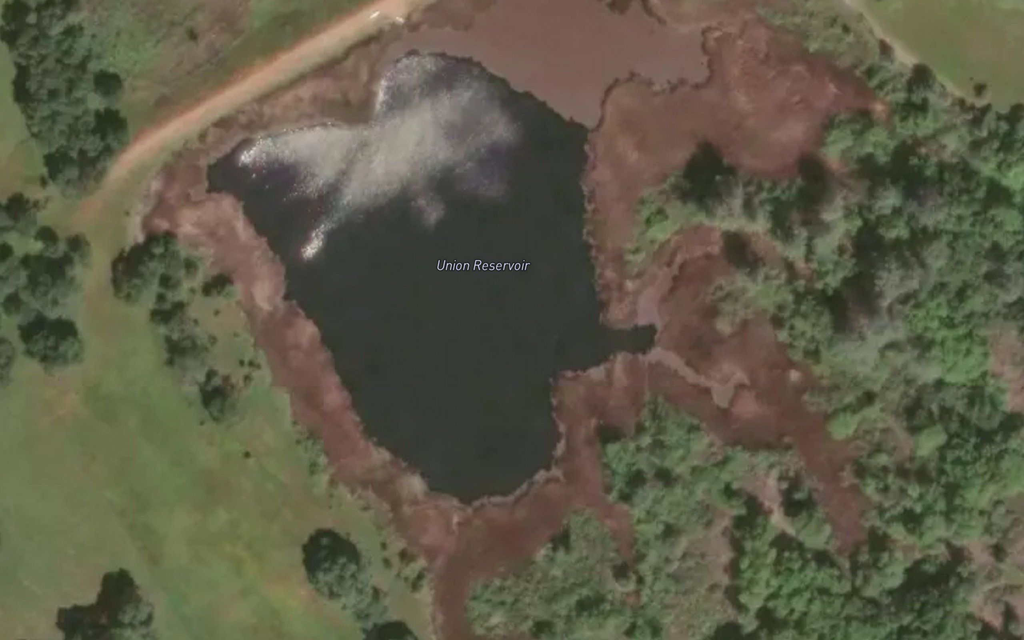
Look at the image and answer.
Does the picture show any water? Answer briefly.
Yes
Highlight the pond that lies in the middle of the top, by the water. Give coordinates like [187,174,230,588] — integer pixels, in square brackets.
[381,0,710,133]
